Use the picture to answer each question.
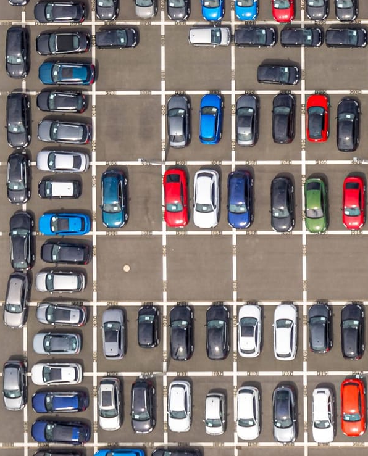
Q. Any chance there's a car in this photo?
Yes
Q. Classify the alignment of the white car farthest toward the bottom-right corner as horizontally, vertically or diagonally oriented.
vertically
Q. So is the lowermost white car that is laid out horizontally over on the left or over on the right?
left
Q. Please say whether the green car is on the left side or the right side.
right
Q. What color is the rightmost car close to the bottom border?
red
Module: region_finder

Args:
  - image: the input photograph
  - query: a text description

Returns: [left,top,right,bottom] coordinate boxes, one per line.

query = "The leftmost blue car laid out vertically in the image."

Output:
[101,170,128,228]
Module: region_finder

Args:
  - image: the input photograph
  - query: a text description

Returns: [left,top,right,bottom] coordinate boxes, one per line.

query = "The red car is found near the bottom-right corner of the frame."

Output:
[339,377,366,436]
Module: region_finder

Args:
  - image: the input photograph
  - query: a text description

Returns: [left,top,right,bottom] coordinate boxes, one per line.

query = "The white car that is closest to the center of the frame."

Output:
[192,170,219,228]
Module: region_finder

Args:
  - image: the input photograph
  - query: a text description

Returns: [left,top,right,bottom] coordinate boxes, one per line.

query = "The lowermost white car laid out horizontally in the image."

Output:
[32,362,82,387]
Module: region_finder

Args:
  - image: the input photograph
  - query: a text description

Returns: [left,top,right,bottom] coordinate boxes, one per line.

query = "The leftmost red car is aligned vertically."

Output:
[162,169,189,228]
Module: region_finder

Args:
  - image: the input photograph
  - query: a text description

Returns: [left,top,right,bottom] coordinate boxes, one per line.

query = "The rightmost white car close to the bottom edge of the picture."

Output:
[309,387,336,442]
